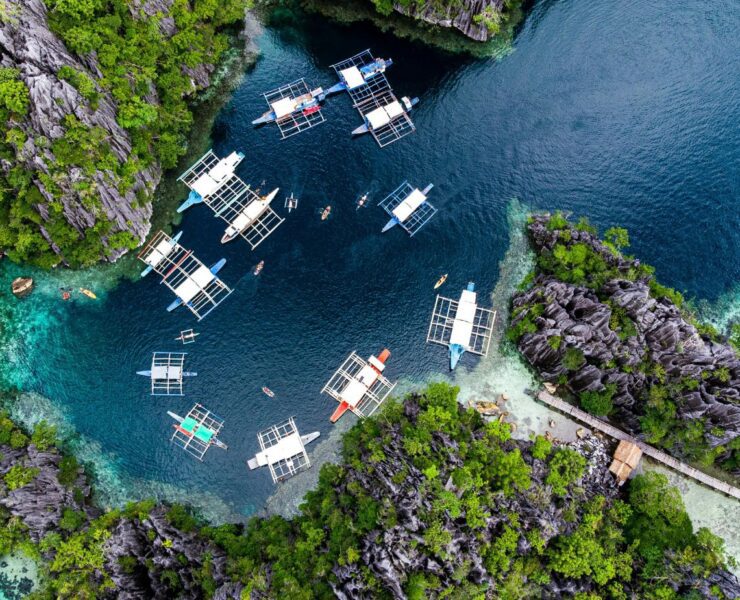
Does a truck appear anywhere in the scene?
No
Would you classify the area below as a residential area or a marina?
marina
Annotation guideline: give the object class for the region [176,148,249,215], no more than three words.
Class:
boat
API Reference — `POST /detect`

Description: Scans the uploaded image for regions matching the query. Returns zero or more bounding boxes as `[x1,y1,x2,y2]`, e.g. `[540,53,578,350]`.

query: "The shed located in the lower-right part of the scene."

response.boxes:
[603,438,641,479]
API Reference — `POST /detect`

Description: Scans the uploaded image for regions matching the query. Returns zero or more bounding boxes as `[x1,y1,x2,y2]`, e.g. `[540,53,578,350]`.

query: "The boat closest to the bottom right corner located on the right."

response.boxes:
[426,281,497,372]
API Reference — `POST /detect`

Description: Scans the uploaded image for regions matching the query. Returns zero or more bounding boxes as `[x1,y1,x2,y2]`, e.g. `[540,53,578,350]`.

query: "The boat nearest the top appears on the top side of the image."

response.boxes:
[324,48,394,106]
